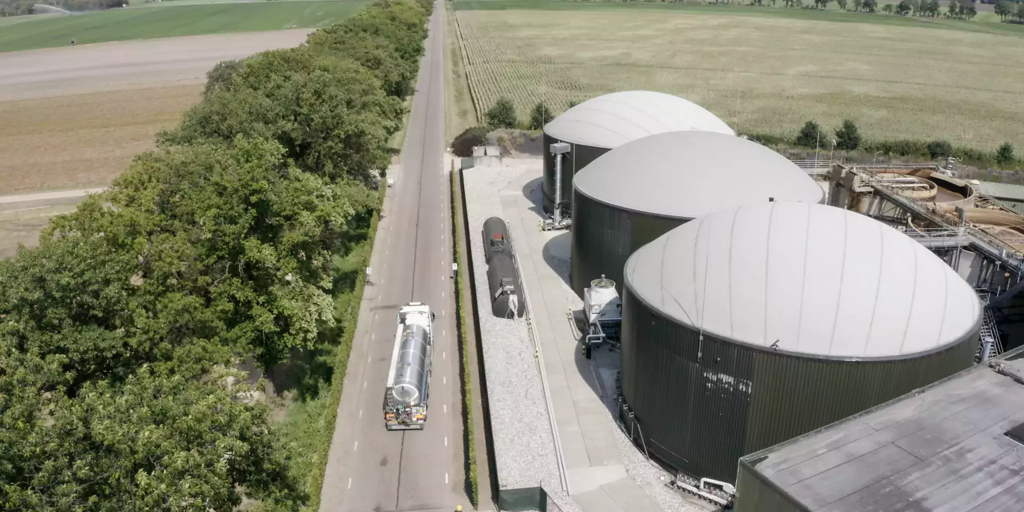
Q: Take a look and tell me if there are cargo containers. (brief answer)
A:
No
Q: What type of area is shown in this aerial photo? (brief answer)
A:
industrial area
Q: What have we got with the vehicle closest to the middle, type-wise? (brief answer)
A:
truck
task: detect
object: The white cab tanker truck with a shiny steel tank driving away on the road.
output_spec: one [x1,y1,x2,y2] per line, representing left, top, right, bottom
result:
[385,304,436,432]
